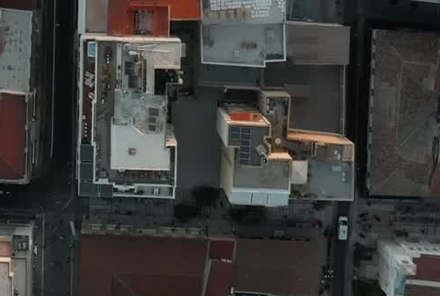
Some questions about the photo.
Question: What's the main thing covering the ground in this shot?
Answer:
buildings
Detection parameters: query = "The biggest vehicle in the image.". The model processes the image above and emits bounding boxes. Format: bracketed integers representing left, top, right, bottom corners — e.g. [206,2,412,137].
[338,217,350,243]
